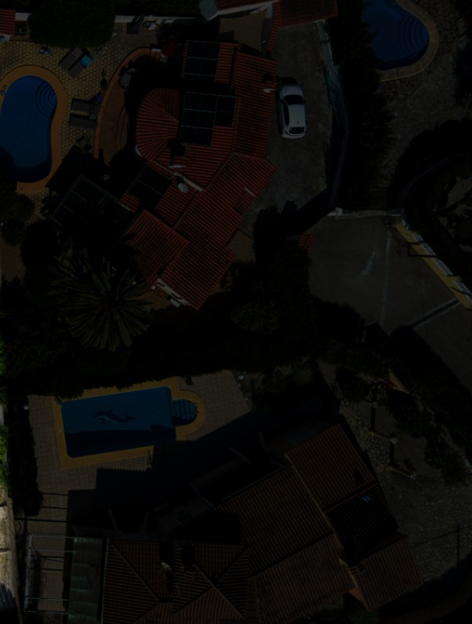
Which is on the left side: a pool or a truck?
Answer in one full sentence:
Looking on the left side, you will find a pool.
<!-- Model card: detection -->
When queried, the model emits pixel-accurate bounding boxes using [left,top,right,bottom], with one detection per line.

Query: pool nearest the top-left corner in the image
[0,65,67,193]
